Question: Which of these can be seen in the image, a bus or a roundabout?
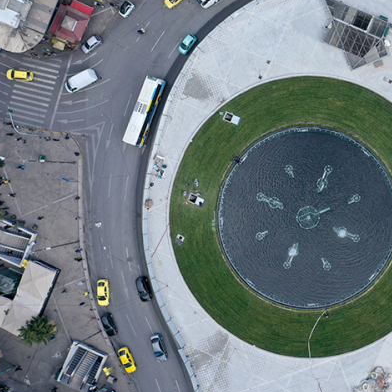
bus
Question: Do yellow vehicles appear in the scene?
Yes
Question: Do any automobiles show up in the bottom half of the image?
Yes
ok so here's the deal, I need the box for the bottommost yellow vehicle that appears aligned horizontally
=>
[6,67,36,82]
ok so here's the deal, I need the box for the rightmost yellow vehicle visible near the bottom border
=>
[117,345,138,373]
